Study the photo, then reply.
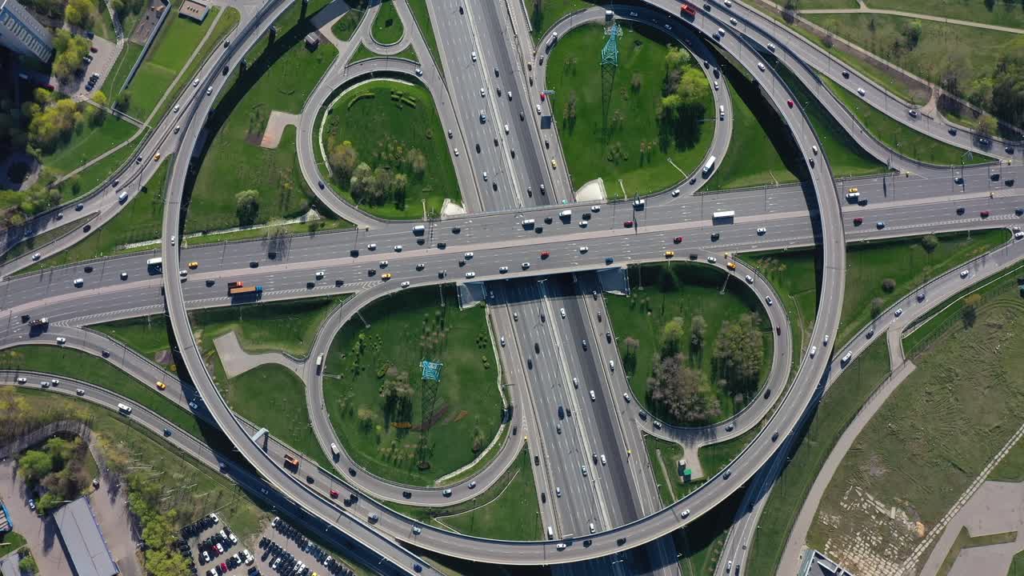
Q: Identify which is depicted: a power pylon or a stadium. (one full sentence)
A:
Looking from above, you can make out a power pylon.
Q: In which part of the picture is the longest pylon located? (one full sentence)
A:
You can find the longest pylon in the top area of the picture.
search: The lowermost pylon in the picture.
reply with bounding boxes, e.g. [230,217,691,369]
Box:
[415,361,441,383]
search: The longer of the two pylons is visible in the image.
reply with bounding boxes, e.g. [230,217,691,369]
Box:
[599,26,624,68]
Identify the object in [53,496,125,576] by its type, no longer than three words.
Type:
building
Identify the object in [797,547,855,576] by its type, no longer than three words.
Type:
building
